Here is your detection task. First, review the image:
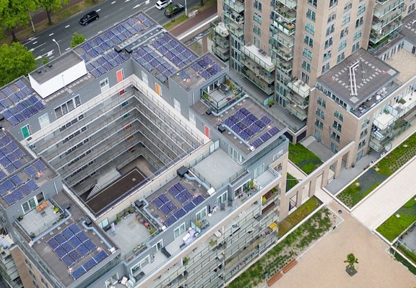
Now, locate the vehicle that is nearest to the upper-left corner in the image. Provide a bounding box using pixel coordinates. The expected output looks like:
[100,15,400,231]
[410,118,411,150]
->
[77,8,100,25]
